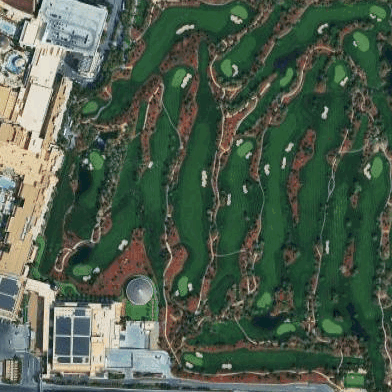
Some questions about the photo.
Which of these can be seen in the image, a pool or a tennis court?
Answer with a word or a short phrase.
pool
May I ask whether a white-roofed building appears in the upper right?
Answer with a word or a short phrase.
No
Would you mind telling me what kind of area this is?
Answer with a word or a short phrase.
golf course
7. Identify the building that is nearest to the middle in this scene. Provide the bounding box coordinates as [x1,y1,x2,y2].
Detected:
[127,280,153,307]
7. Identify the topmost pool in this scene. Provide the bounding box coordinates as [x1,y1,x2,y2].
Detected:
[0,18,16,36]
